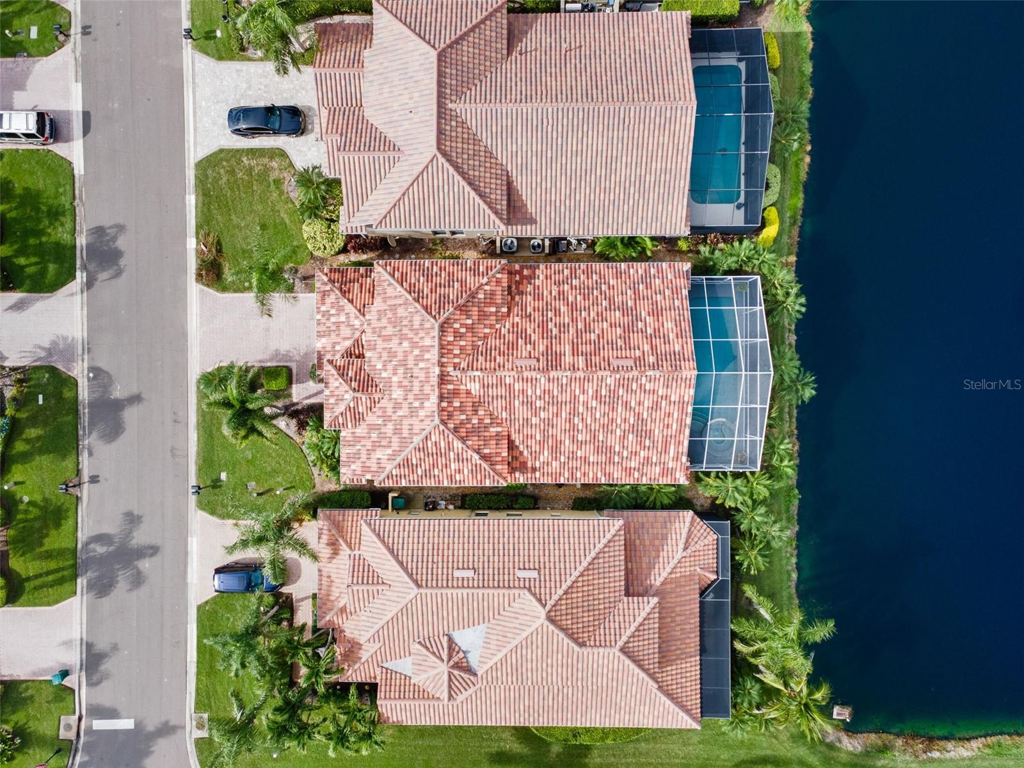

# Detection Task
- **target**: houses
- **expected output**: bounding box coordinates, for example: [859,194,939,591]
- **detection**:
[313,0,698,238]
[314,258,698,487]
[315,507,719,732]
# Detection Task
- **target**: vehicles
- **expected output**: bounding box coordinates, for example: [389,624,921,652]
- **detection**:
[211,562,285,598]
[0,111,56,148]
[228,102,308,140]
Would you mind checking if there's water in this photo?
Yes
